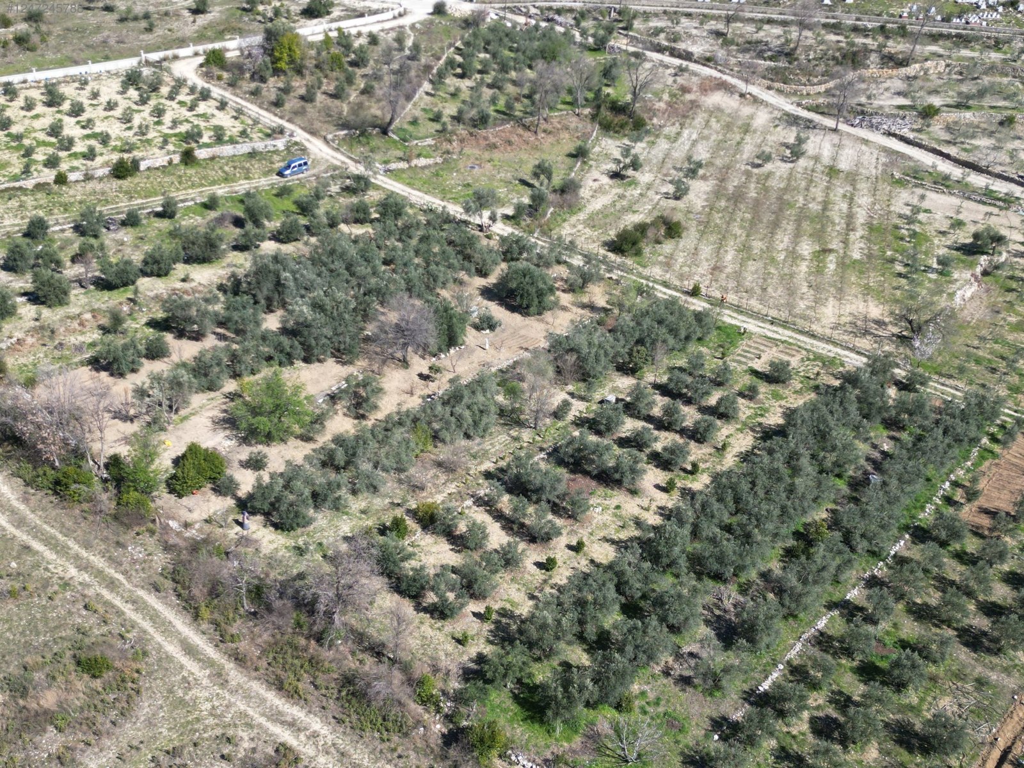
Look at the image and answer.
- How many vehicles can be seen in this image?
1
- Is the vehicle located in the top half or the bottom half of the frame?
top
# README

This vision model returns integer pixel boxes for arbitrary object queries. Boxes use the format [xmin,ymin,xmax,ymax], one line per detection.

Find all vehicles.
[275,155,314,176]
